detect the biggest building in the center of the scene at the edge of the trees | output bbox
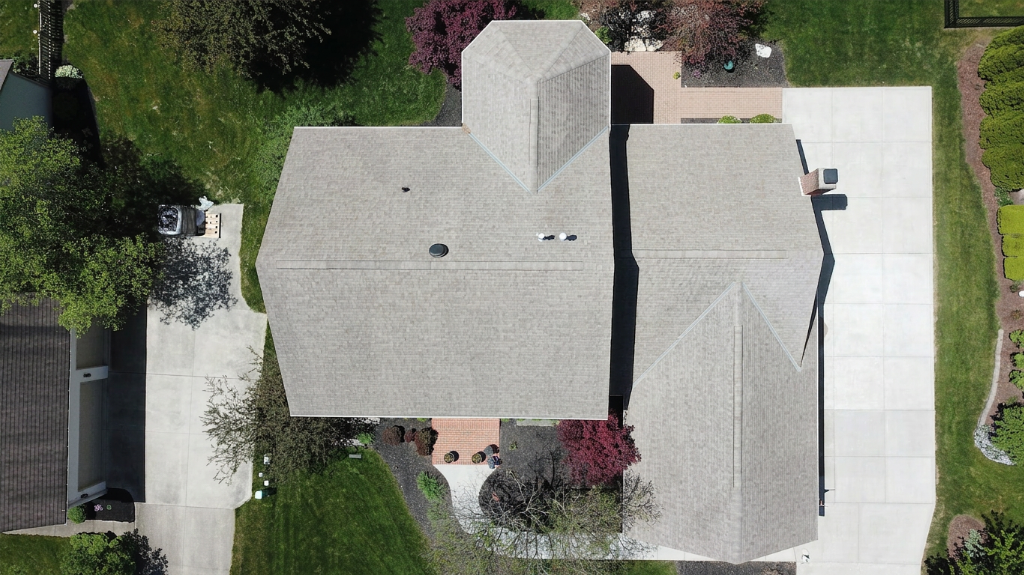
[257,17,839,566]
